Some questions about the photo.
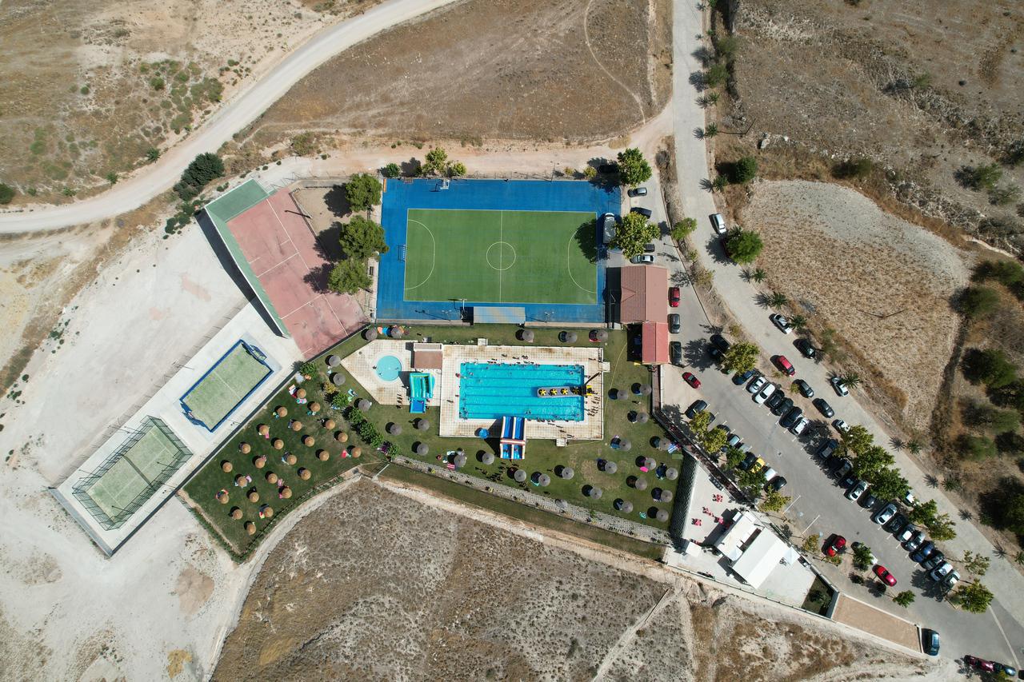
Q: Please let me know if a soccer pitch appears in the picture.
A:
Yes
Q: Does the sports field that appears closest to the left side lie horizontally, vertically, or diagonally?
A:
diagonally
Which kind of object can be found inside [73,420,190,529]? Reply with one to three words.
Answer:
sports court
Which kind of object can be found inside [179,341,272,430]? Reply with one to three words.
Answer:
sports field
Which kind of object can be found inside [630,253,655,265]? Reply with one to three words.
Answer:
vehicle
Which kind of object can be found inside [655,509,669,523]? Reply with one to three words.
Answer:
umbrella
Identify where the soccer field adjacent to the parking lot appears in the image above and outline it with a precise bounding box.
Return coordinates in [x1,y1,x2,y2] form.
[376,179,621,322]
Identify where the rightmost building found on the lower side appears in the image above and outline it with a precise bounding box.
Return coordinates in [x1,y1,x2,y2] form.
[714,511,788,588]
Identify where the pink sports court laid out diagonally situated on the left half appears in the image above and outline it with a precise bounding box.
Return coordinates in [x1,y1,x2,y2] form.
[203,177,365,356]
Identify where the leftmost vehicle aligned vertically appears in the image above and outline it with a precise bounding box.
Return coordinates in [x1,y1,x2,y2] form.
[604,215,616,245]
